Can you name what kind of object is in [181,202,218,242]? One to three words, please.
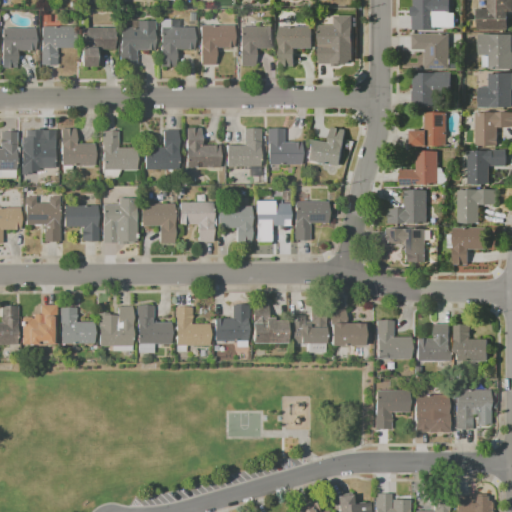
house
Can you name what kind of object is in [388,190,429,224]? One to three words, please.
house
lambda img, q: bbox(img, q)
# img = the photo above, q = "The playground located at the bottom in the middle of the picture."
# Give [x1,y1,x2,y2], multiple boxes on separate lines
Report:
[282,396,310,431]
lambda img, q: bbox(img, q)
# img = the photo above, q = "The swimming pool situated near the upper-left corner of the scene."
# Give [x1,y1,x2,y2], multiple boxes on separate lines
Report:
[12,14,32,26]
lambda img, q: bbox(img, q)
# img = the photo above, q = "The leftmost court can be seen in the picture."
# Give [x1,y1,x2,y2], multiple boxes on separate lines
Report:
[226,410,262,439]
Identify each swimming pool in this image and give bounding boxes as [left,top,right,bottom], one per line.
[448,112,460,136]
[12,14,32,26]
